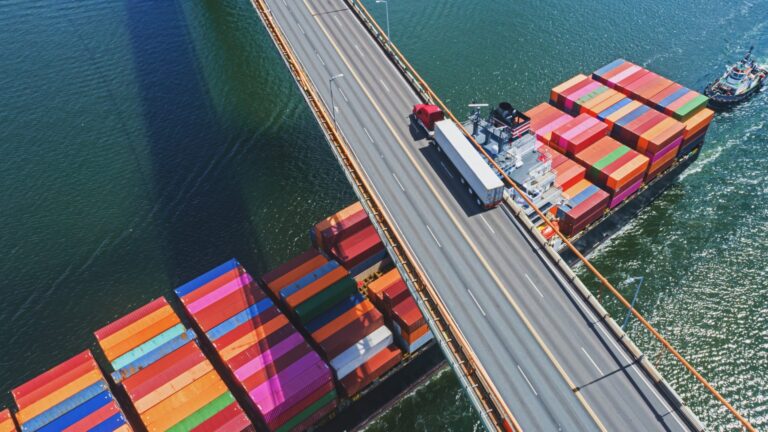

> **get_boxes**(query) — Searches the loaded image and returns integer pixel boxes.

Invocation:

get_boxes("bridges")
[249,0,758,432]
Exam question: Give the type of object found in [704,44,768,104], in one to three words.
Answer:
boat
